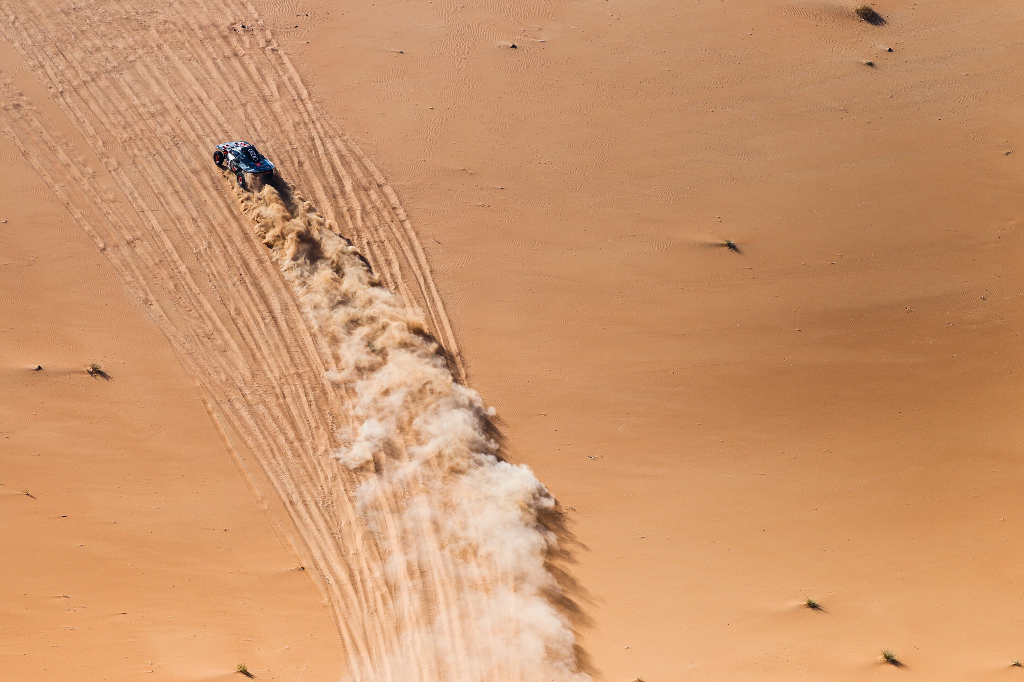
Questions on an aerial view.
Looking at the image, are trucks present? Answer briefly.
No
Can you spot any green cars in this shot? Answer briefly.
No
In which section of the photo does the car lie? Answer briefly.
top left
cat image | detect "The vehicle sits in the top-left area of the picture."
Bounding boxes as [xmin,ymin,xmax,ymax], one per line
[211,139,276,188]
